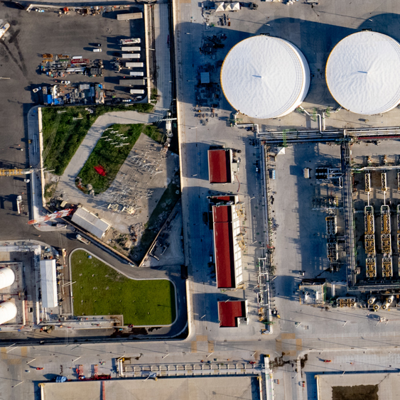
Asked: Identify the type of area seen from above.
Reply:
industrial area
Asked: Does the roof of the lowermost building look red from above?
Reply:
Yes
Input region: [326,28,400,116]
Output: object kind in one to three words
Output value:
storage tank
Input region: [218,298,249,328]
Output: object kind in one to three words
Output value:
building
